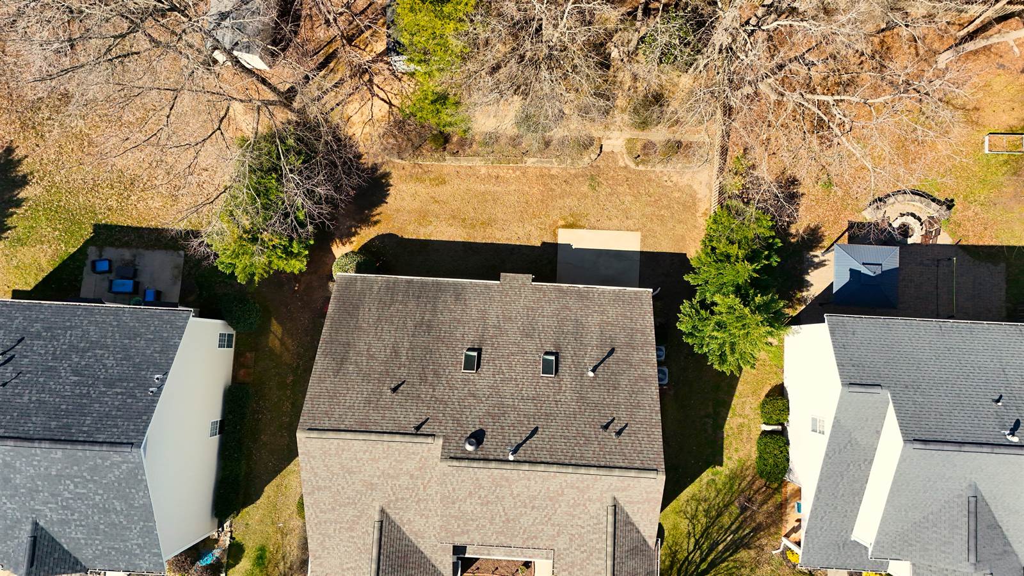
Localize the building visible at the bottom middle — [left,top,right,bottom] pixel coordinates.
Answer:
[299,271,665,576]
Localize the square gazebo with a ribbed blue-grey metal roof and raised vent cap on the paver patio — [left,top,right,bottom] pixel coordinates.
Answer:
[816,243,900,309]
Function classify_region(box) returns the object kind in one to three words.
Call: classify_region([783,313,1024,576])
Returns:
house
